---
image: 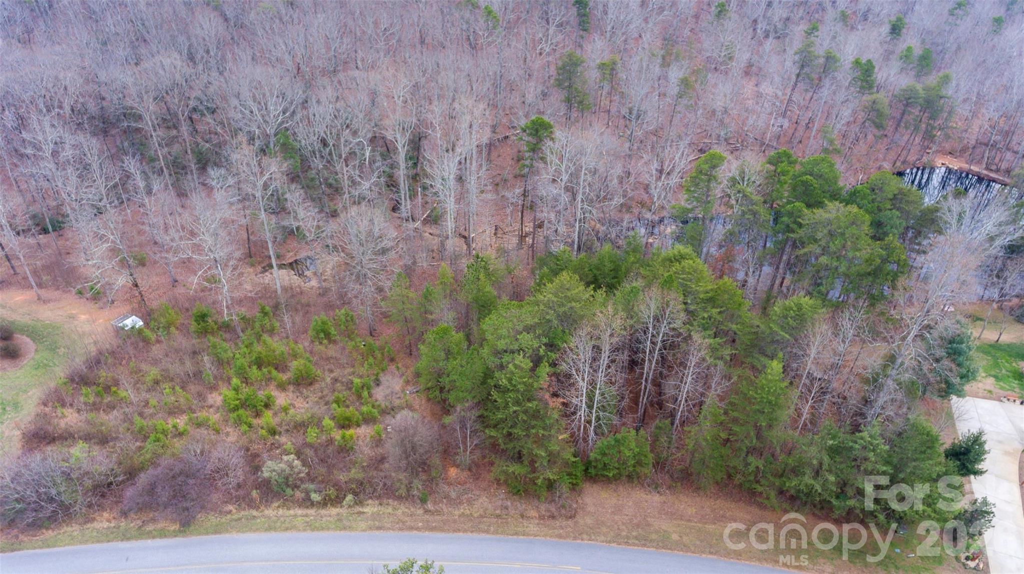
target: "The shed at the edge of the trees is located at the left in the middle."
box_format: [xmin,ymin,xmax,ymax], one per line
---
[114,313,147,337]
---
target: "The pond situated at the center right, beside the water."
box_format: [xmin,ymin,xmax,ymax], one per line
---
[626,169,1024,300]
